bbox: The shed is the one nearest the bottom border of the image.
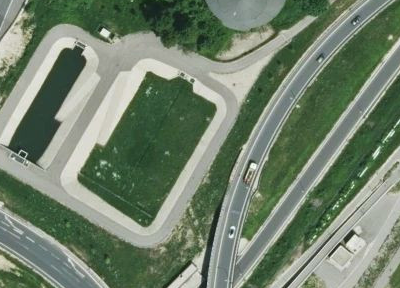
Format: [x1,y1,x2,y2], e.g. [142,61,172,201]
[166,262,198,288]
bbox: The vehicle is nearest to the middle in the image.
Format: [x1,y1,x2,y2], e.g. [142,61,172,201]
[244,162,257,185]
